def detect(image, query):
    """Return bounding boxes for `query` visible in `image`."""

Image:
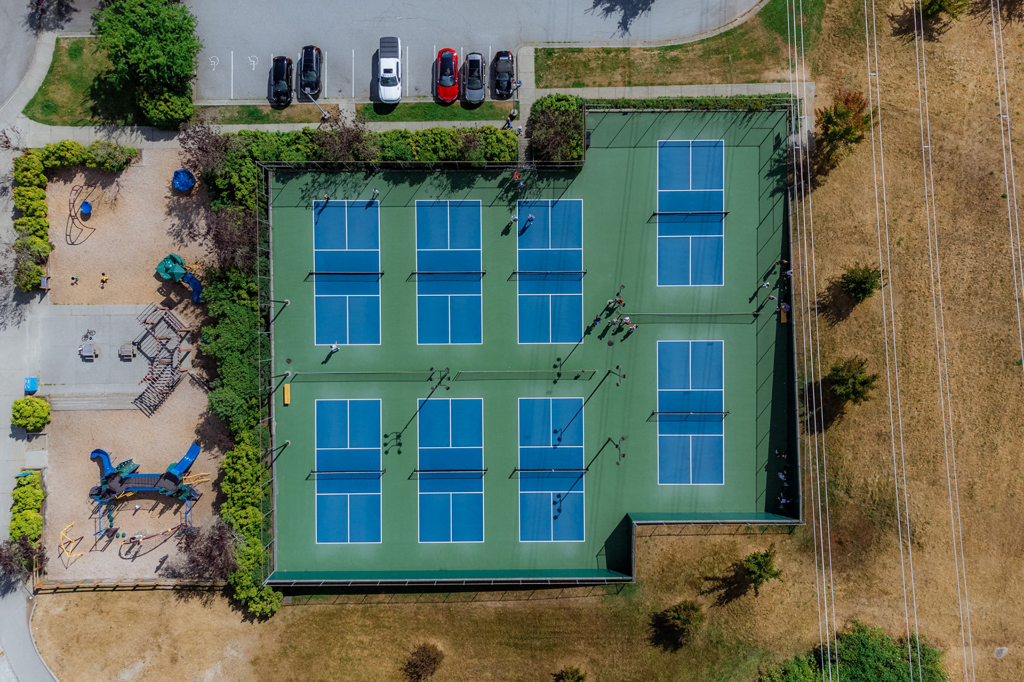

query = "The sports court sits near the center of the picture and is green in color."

[271,110,788,572]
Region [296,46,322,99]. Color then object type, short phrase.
black car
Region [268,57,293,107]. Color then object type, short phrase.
black car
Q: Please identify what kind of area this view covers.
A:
sports ground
